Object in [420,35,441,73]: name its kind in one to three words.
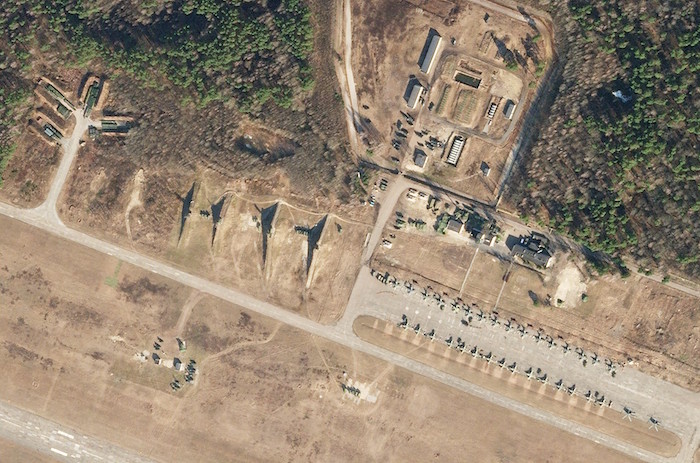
building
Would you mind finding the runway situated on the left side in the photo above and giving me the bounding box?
[0,402,157,463]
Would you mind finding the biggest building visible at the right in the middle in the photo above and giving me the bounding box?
[511,244,552,265]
